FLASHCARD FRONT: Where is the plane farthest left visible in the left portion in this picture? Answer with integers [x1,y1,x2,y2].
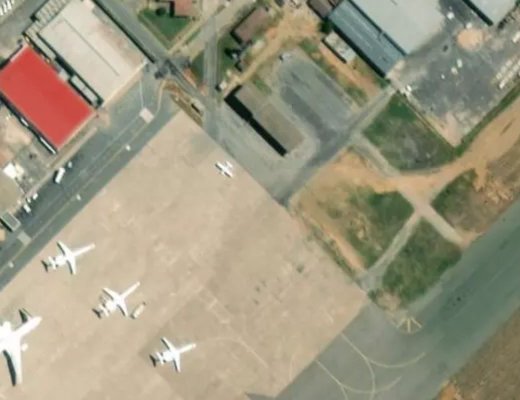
[0,316,42,383]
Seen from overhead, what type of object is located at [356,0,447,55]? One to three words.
building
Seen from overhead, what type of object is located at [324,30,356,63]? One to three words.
shed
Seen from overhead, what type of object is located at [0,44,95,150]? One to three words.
building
